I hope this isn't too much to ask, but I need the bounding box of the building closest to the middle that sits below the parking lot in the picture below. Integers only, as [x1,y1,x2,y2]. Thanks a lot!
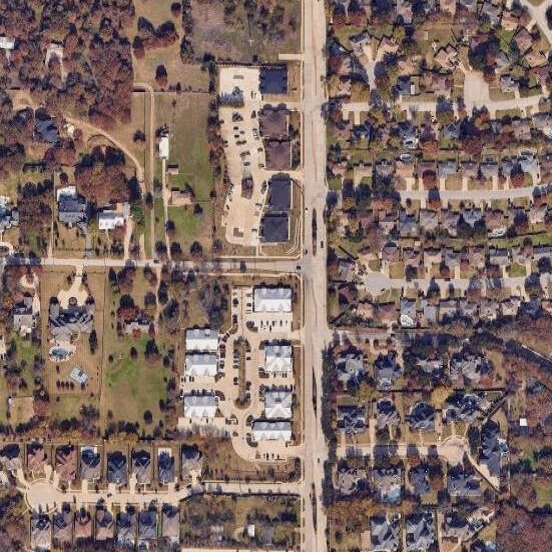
[254,288,292,313]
